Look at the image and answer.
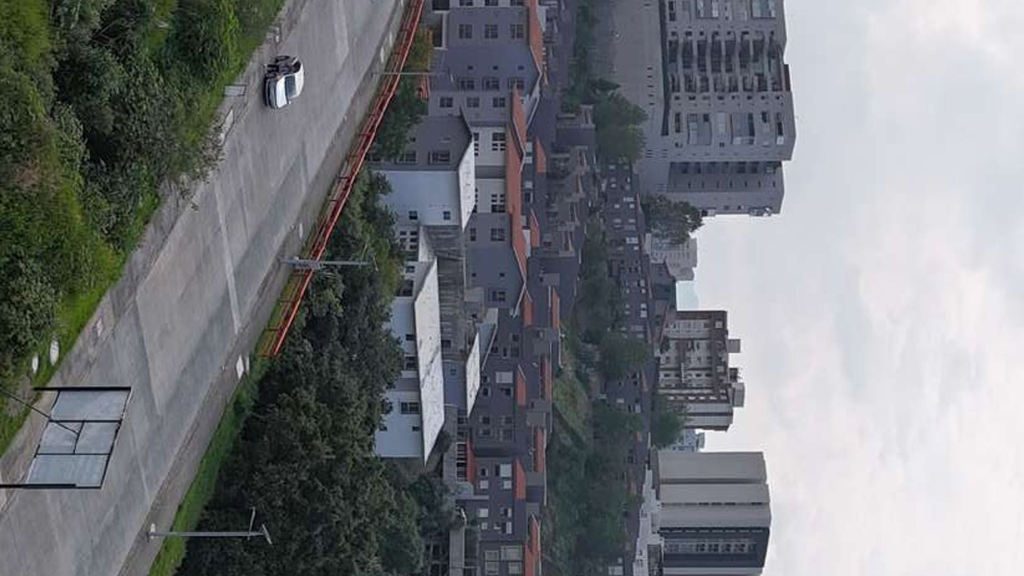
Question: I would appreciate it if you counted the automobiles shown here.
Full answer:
In total, 1 automobile can be seen.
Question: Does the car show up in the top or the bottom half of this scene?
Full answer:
You can find the car in the top half.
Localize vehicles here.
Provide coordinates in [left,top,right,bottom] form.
[265,61,310,105]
